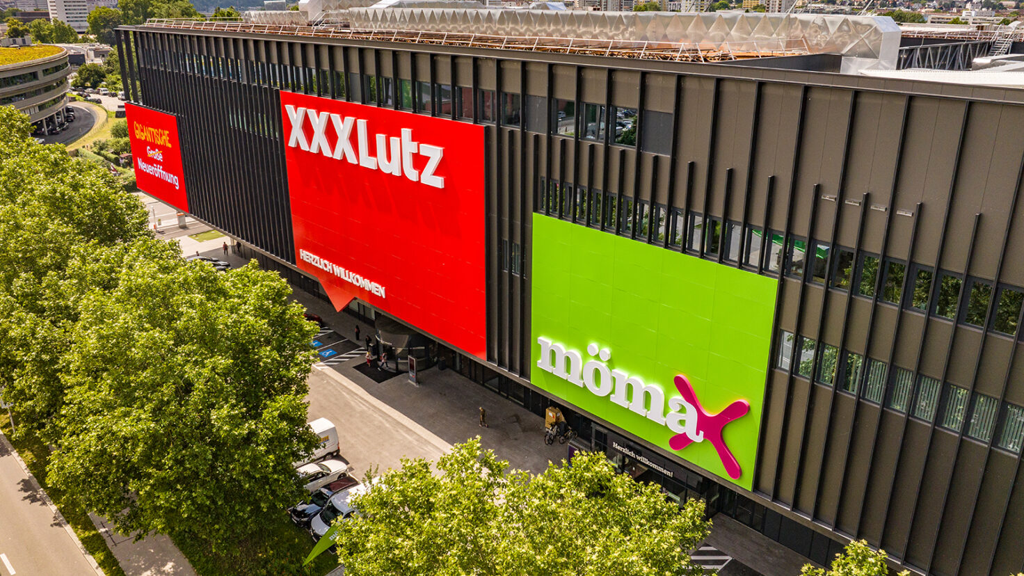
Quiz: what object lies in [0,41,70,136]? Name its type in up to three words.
building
